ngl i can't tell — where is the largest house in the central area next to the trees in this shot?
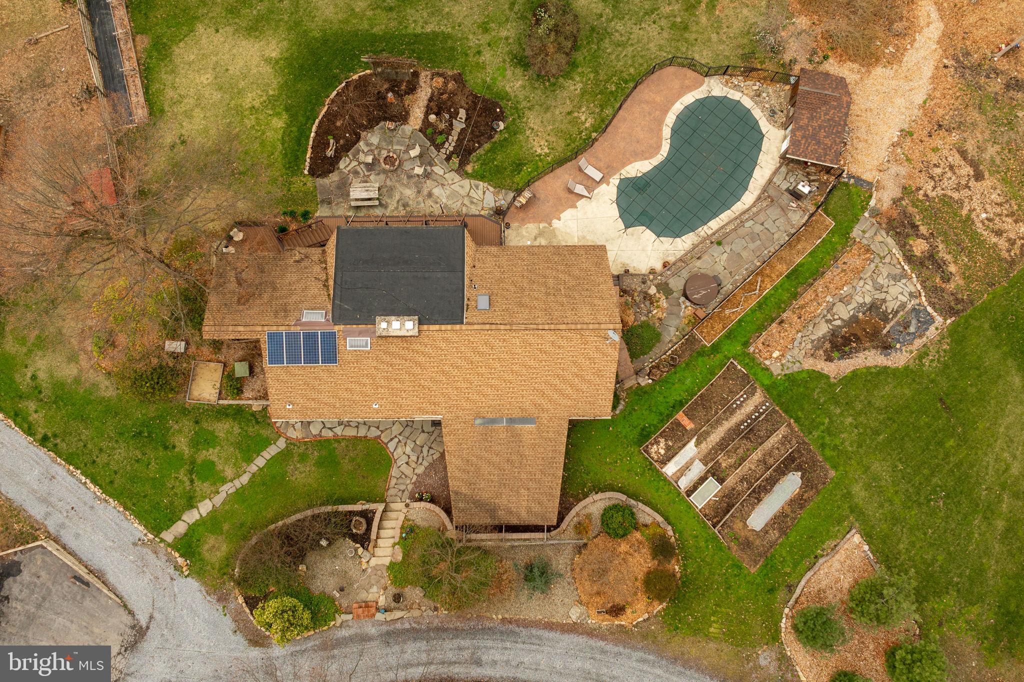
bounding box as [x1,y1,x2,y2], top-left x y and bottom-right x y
[202,226,621,525]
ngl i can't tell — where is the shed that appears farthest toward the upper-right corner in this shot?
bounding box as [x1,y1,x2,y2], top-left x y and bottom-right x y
[776,67,851,172]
